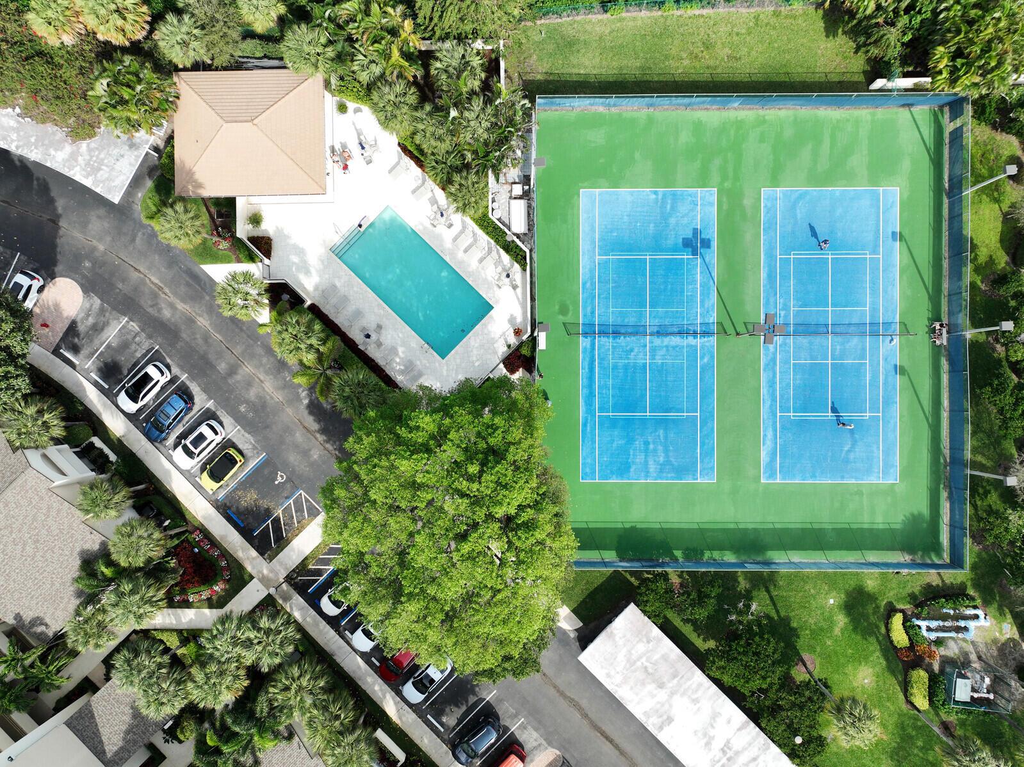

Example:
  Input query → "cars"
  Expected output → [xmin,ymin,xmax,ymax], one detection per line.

[321,568,372,613]
[120,361,173,410]
[404,653,454,700]
[147,391,194,442]
[177,420,227,470]
[381,635,431,679]
[454,711,503,762]
[2,272,45,327]
[491,742,530,767]
[203,448,245,490]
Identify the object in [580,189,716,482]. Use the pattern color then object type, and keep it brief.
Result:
blue tennis court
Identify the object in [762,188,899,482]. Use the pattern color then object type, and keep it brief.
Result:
blue tennis court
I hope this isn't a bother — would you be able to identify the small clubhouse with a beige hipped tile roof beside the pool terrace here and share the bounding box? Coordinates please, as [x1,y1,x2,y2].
[173,70,330,201]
